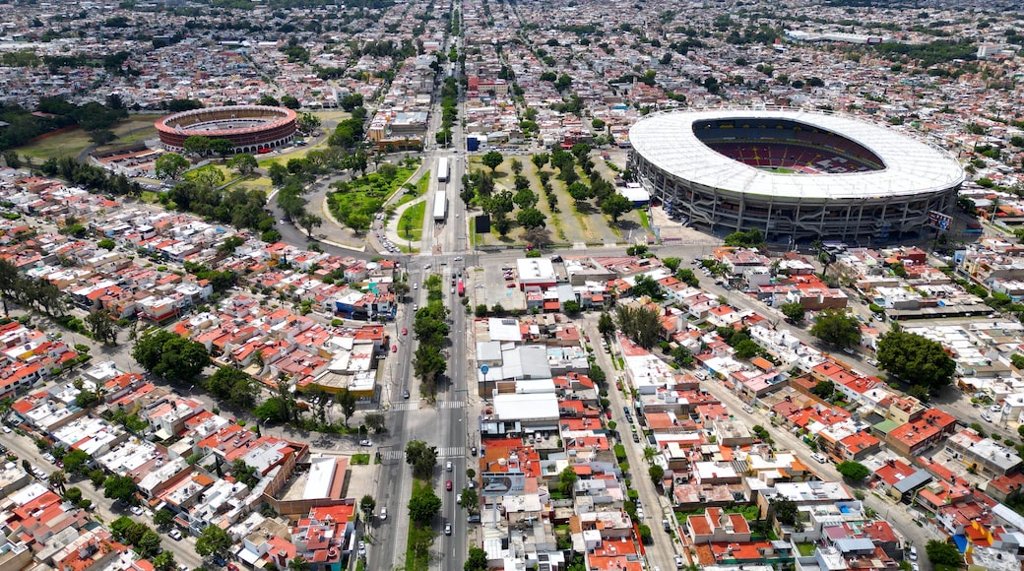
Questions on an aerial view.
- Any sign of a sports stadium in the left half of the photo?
No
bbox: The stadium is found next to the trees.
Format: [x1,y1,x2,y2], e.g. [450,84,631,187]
[628,105,965,247]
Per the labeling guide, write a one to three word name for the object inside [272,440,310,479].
house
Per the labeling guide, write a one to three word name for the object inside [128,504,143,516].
vehicle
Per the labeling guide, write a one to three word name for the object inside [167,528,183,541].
vehicle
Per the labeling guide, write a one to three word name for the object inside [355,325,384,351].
building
